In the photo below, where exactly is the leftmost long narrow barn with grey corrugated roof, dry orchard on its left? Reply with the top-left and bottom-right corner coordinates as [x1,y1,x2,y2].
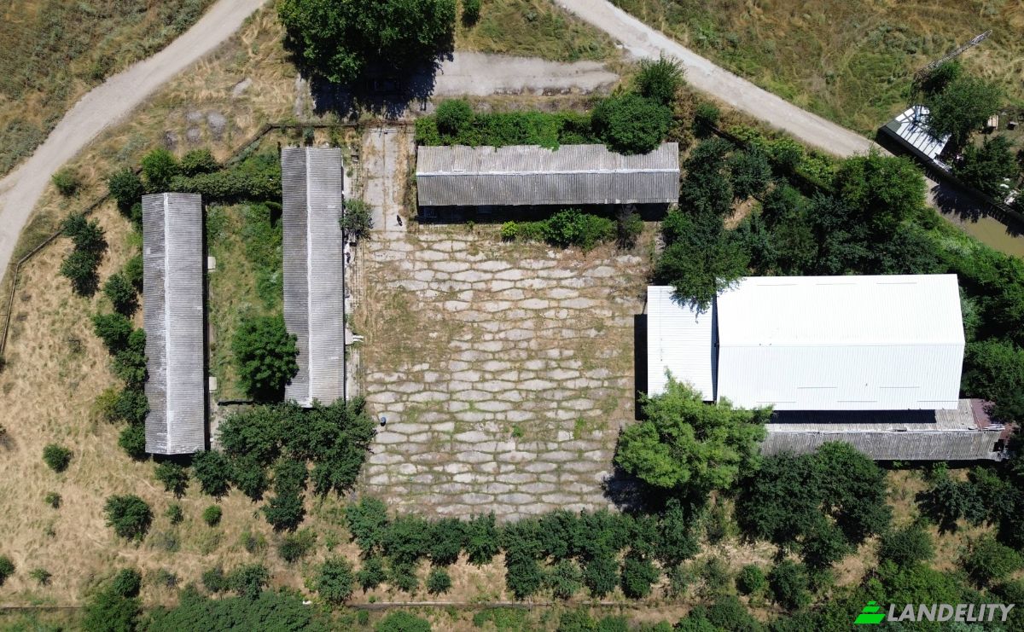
[141,191,213,457]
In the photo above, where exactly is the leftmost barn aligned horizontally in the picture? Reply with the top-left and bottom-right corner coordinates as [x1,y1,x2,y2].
[416,143,683,206]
